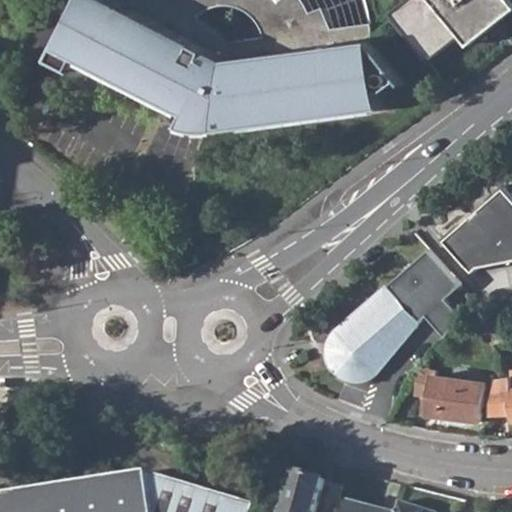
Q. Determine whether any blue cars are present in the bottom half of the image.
No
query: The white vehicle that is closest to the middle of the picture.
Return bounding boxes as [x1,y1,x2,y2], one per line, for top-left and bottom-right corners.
[255,364,274,386]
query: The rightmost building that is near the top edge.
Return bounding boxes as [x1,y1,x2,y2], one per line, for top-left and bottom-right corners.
[422,0,511,52]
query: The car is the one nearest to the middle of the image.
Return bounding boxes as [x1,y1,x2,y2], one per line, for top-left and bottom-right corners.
[260,314,283,331]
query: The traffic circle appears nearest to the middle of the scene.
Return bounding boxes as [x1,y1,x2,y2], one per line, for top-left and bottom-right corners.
[202,309,247,354]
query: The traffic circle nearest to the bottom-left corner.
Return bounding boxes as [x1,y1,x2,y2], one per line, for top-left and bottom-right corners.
[92,306,138,352]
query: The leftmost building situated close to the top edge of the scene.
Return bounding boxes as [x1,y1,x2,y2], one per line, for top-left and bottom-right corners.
[37,0,371,140]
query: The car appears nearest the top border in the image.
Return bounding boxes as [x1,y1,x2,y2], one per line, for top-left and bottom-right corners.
[420,140,442,159]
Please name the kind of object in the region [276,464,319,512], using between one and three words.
house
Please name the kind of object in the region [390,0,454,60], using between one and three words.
building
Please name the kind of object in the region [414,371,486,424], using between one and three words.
house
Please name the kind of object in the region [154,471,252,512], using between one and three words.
building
